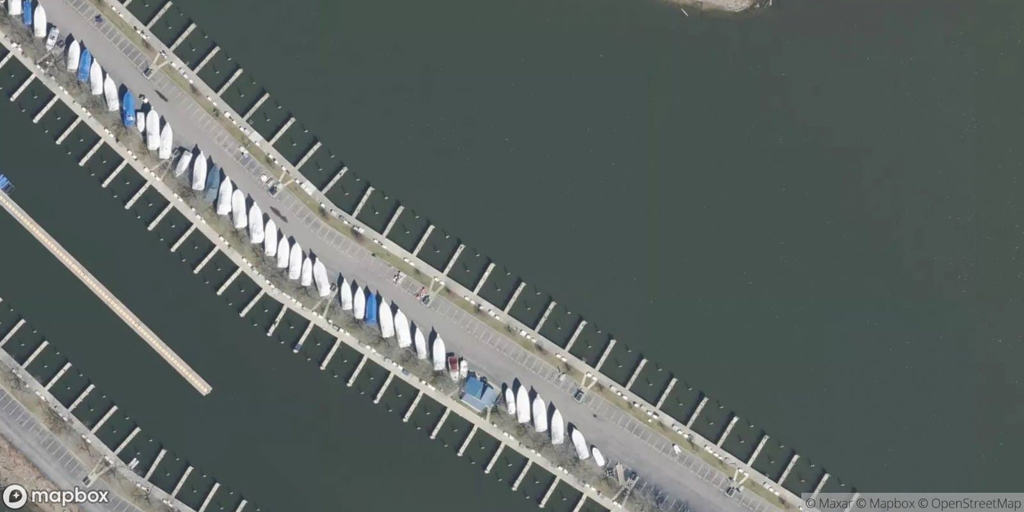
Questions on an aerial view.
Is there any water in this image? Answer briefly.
Yes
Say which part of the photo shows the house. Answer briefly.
bottom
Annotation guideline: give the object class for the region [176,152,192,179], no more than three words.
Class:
boat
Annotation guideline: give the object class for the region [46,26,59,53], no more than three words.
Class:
boat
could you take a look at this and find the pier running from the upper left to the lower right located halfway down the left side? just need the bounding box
[0,186,212,397]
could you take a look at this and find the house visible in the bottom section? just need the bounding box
[461,377,496,412]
